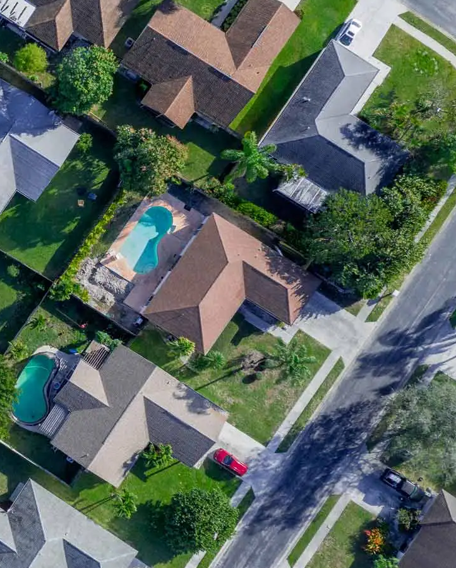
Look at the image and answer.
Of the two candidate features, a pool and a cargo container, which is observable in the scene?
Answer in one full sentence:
Of the two, only a pool appears.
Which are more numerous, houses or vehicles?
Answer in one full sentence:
The image shows a greater number of houses than of vehicles.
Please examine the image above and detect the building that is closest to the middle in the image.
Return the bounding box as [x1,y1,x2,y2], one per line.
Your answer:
[142,212,319,356]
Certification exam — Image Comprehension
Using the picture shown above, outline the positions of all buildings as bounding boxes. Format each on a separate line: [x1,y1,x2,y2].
[384,489,456,568]
[120,0,302,130]
[24,0,140,52]
[258,39,410,201]
[0,80,81,214]
[50,344,229,489]
[142,212,319,356]
[0,478,139,568]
